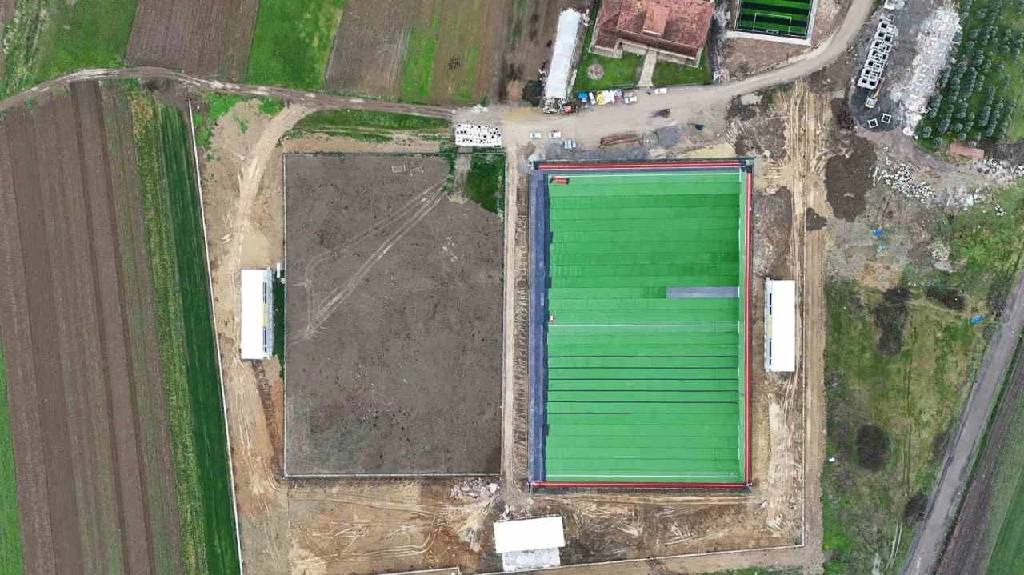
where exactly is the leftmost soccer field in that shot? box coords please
[284,152,504,478]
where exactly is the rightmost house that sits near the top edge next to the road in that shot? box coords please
[592,0,716,68]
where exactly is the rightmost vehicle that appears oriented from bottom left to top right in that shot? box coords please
[865,82,884,109]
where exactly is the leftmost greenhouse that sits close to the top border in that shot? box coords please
[547,7,583,100]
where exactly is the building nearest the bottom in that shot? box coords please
[493,511,565,567]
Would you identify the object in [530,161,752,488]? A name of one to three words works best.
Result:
soccer field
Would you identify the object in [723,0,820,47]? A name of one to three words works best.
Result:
soccer field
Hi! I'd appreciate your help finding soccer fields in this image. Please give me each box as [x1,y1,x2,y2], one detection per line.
[284,152,504,478]
[723,0,820,47]
[530,161,752,488]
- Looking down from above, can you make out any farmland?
Yes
